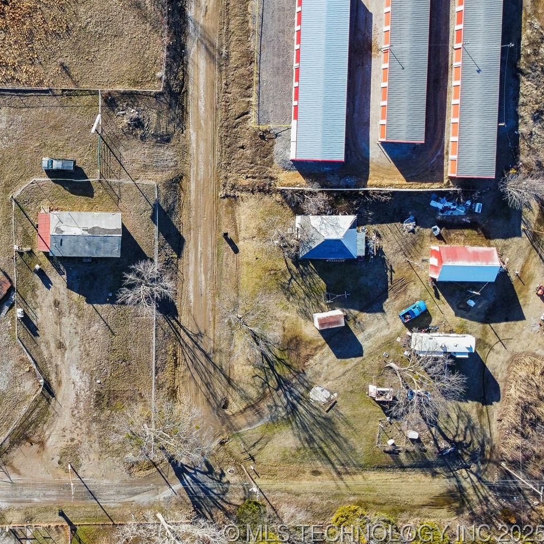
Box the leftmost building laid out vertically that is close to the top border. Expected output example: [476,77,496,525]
[287,0,350,162]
